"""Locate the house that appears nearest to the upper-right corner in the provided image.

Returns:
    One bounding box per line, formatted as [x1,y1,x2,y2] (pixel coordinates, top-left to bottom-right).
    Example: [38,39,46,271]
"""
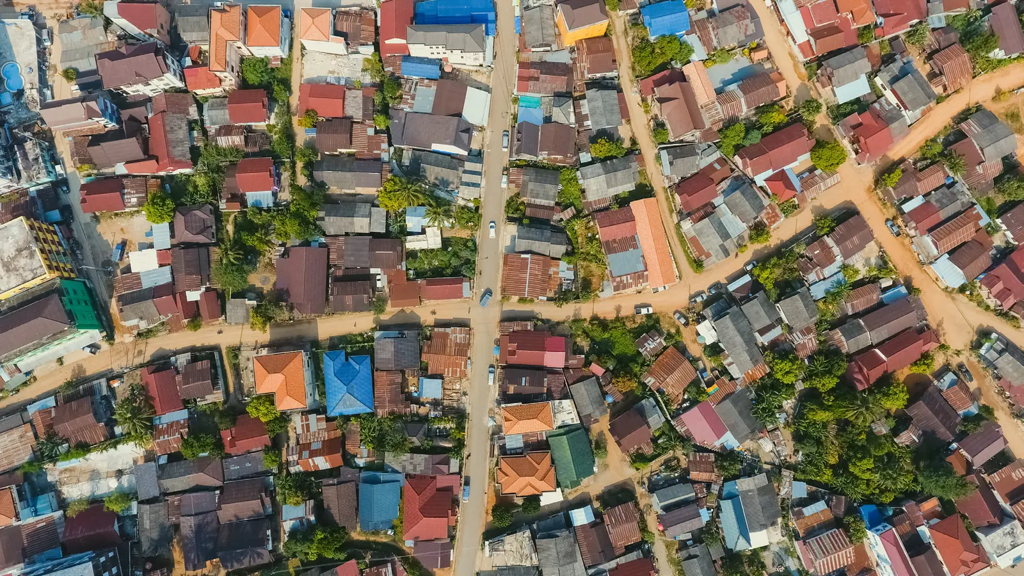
[981,1,1024,60]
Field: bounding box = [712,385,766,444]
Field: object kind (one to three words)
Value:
house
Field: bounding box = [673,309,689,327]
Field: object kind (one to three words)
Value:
car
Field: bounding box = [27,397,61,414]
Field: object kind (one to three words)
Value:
shed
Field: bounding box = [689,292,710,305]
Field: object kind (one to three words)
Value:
vehicle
